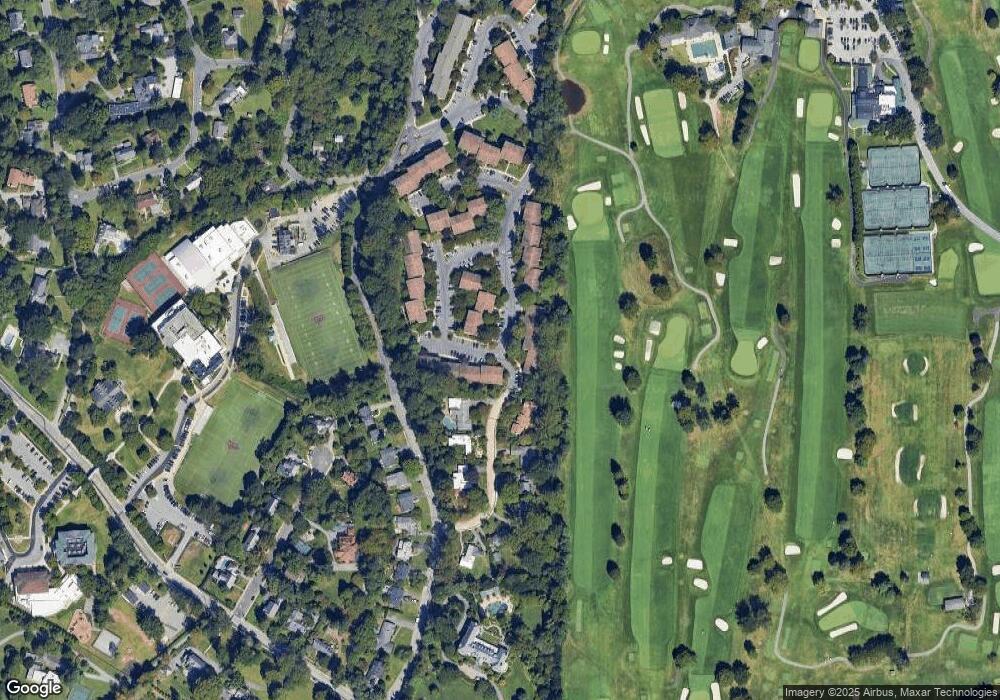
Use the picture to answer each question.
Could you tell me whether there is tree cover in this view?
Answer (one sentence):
Yes, there is tree cover in the image.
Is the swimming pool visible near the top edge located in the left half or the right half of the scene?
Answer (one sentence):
The swimming pool visible near the top edge appears in the right half of the scene.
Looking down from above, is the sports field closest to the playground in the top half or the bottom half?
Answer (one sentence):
The sports field closest to the playground sits in the bottom half of the picture.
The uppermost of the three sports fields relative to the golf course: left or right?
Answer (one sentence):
The uppermost of the three sports fields is to the left of the golf course.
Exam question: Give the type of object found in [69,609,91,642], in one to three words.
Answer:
playground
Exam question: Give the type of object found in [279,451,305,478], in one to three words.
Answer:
house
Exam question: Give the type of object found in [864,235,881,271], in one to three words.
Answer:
tennis court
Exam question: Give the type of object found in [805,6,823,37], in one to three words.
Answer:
building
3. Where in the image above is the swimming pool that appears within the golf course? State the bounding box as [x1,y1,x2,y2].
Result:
[686,32,725,62]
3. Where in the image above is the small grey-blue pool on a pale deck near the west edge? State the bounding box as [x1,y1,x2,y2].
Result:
[1,326,18,349]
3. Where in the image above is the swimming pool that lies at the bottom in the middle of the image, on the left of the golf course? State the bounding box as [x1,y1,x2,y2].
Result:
[480,595,513,616]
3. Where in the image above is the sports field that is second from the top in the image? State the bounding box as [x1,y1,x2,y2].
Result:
[174,375,284,506]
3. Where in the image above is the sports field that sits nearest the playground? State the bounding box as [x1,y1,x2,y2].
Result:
[105,603,156,664]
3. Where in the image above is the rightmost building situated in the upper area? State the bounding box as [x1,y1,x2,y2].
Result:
[849,64,902,129]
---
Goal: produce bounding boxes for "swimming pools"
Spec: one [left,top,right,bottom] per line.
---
[686,32,725,62]
[1,326,18,349]
[480,595,513,616]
